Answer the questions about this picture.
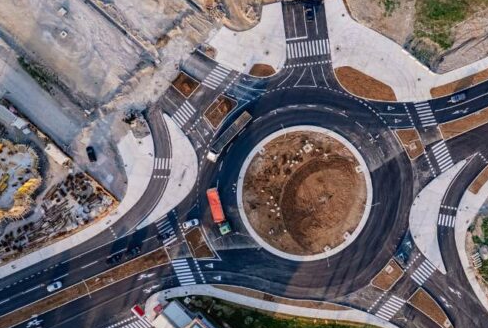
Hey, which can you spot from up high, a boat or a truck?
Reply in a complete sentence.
The one in the frame is a truck.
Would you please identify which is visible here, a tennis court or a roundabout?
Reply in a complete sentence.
The image shows a roundabout.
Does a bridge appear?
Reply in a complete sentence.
No, no bridge can be seen from above.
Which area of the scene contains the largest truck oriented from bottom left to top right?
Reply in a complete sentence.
The largest truck oriented from bottom left to top right is located in the center region of the scene.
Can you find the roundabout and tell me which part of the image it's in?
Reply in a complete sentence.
The roundabout sits in the center section of the image.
